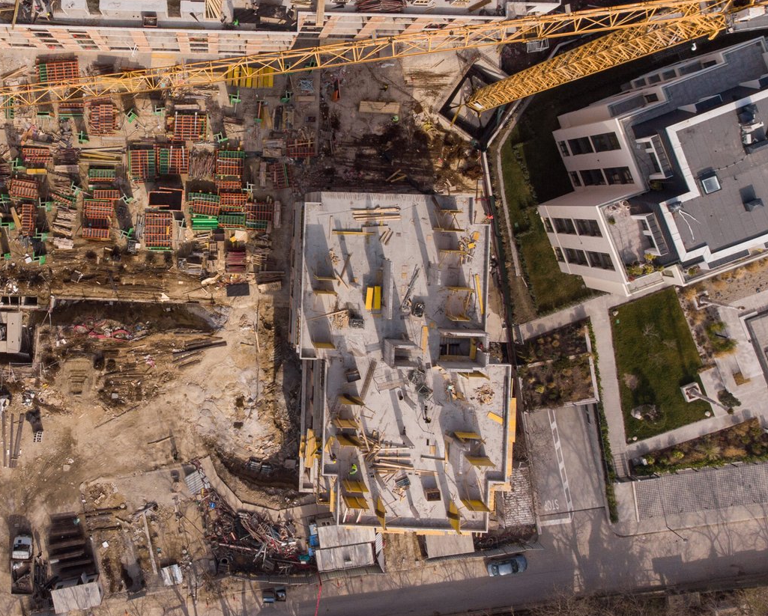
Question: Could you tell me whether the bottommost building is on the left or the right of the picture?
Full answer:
The bottommost building sits on the left side.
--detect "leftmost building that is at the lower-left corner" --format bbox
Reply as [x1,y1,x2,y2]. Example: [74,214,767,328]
[50,573,104,614]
